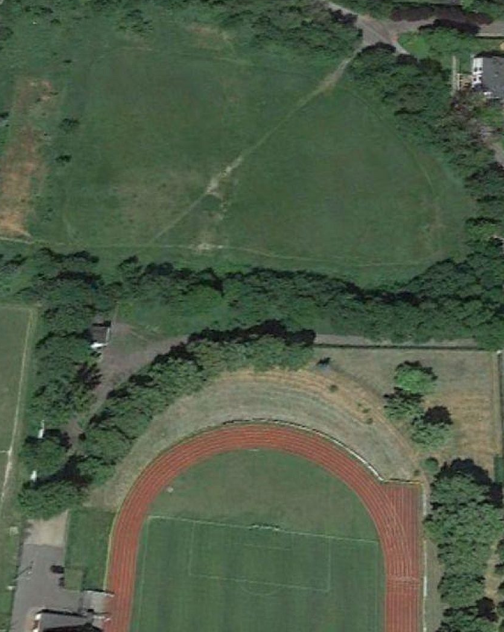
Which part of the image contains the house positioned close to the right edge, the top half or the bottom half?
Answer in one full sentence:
It is in the top half that the house positioned close to the right edge appears.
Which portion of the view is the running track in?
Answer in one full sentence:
The running track sits in the bottom section of the image.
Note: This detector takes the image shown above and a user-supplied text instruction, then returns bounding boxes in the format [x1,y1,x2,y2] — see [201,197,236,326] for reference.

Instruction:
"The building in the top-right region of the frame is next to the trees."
[469,57,504,94]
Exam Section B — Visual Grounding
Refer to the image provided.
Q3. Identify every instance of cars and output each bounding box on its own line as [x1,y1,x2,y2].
[58,577,65,587]
[52,568,62,573]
